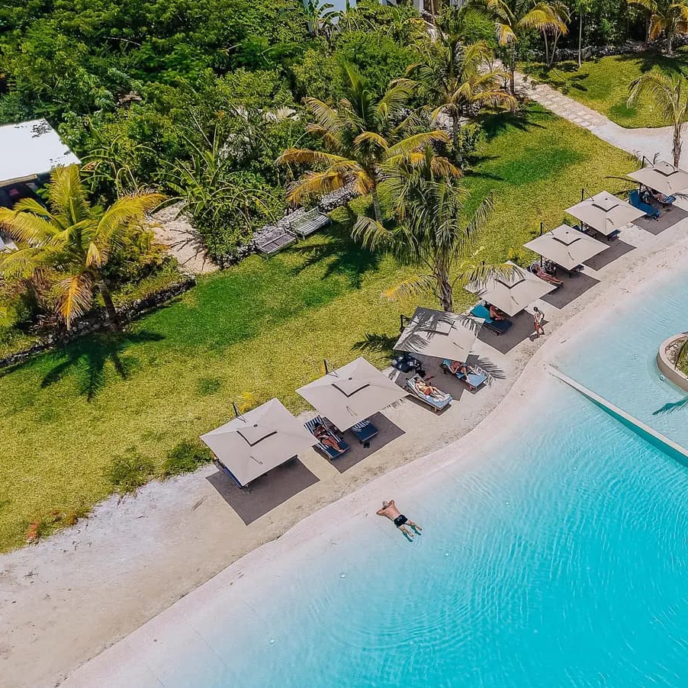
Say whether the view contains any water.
Yes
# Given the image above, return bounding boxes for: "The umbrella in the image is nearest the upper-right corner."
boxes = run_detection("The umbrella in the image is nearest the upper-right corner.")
[631,153,688,197]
